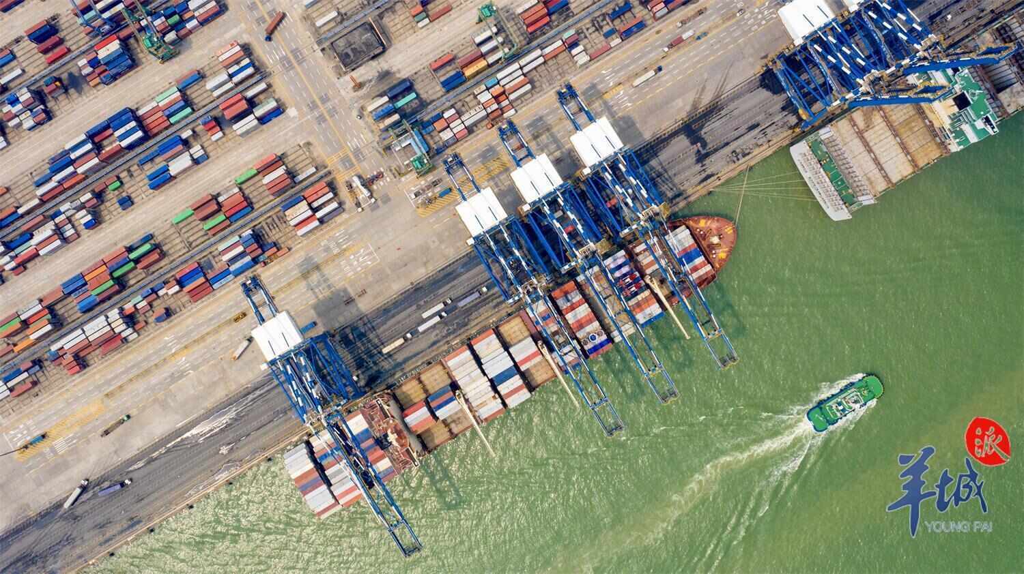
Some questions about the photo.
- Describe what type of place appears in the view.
port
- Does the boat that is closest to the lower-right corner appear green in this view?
Yes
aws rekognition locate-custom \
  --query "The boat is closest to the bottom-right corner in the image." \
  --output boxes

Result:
[806,379,883,431]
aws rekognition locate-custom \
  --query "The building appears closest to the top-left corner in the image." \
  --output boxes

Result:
[332,18,390,70]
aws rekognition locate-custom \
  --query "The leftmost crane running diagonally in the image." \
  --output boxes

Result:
[65,0,117,39]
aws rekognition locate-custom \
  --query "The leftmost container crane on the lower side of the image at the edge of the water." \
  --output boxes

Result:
[237,279,423,559]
